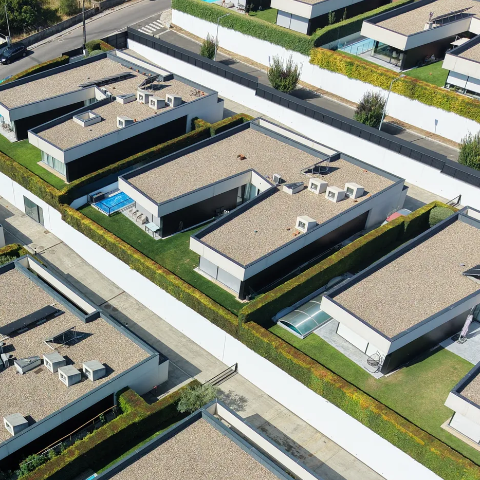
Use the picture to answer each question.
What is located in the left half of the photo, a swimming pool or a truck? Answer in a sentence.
The one visible in the left half of the photo is a swimming pool.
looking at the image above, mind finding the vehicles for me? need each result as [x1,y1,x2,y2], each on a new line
[381,207,408,222]
[2,44,24,61]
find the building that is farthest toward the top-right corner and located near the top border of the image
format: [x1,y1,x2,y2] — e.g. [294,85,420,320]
[364,0,480,98]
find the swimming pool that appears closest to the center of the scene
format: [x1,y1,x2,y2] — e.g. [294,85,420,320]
[91,186,135,215]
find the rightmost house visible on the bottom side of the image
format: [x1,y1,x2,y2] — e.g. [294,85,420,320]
[325,208,480,448]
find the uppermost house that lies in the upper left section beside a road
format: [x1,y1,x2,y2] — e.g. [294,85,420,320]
[0,50,222,182]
